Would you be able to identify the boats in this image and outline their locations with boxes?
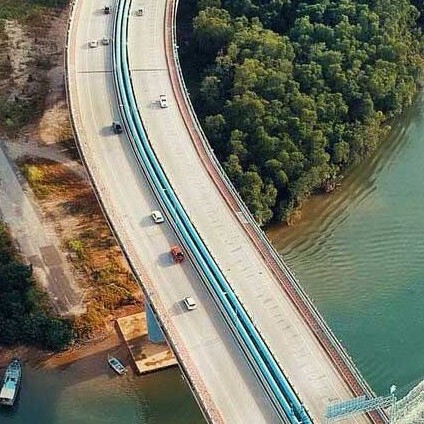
[1,356,19,406]
[110,351,127,375]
